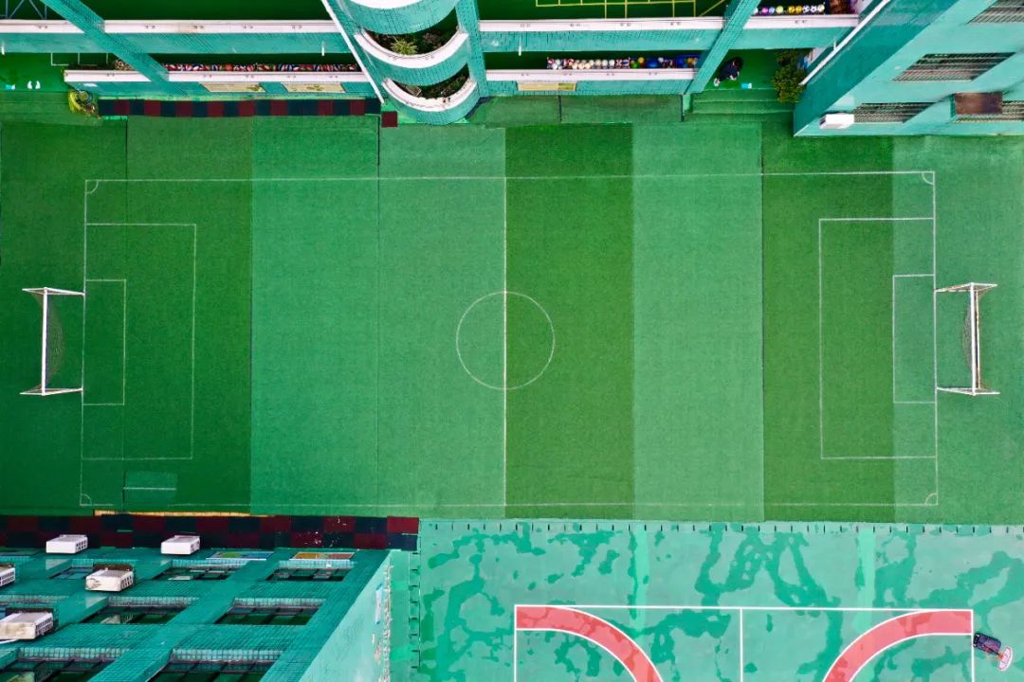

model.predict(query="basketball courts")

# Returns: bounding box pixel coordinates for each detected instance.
[420,519,1024,682]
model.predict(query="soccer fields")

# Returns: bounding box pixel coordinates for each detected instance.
[0,117,1024,522]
